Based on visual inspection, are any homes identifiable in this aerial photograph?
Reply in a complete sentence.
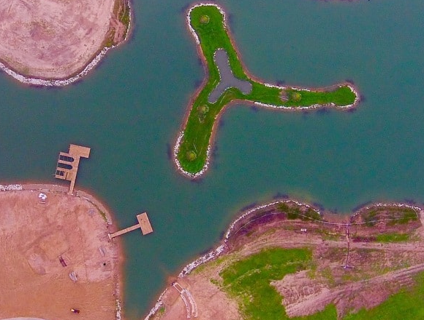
No, the frame has no home in it.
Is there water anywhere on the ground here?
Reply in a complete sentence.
Yes, there is water in the image.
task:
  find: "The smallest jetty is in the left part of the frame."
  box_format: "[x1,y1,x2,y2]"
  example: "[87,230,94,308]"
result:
[108,213,150,239]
